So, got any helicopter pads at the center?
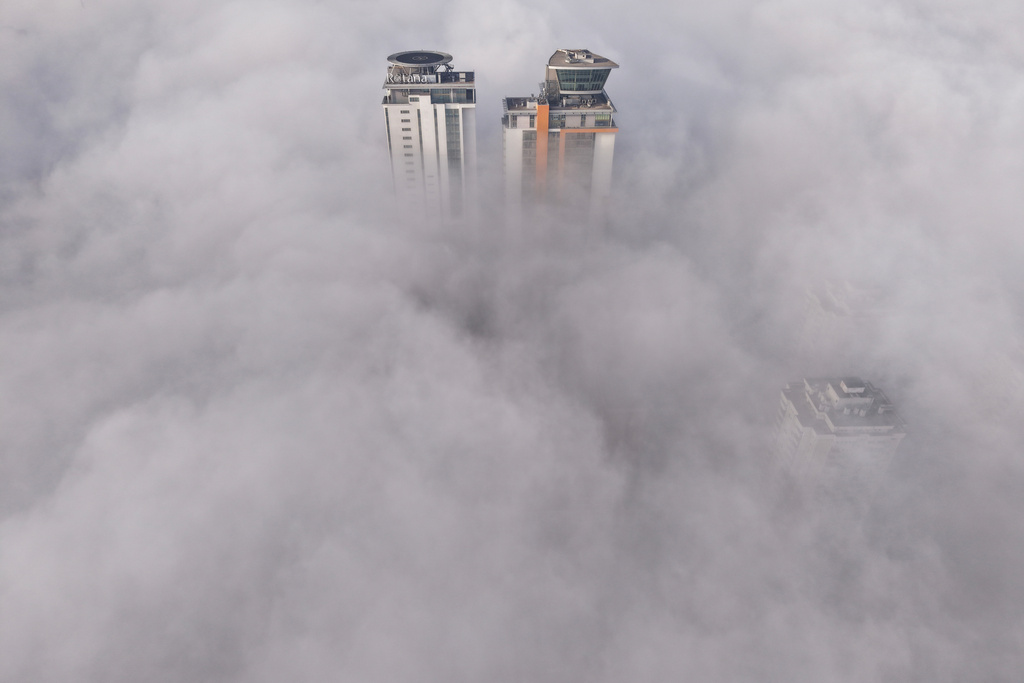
No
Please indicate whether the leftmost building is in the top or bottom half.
top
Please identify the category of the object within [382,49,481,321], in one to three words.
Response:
building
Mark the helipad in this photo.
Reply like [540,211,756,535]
[387,49,453,82]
